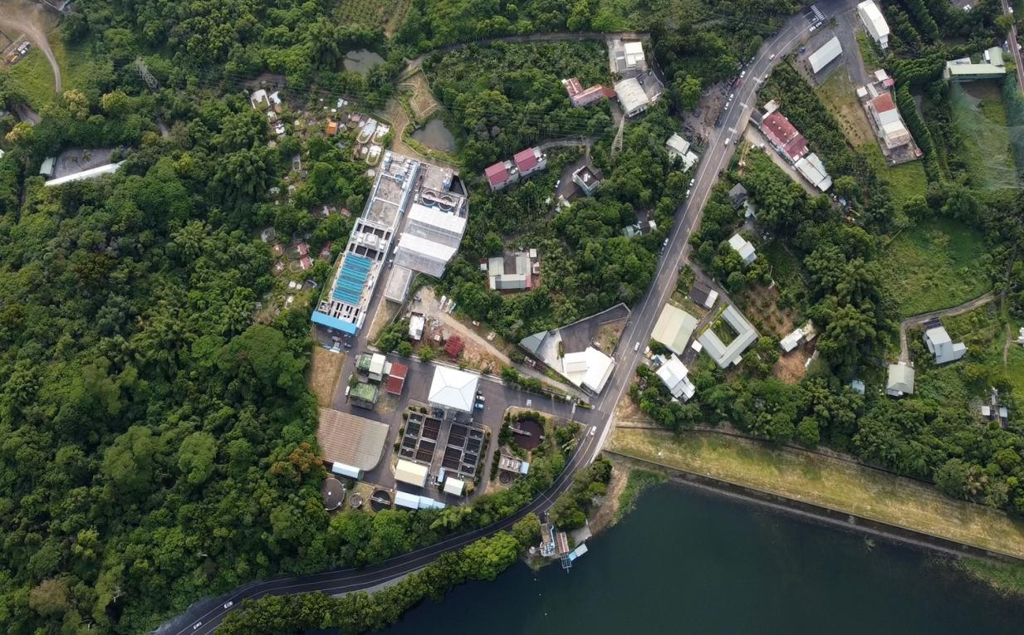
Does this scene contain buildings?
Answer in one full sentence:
Yes, I can see a building in this picture.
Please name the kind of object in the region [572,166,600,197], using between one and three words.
house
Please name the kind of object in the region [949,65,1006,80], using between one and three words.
shed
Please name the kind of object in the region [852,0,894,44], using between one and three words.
building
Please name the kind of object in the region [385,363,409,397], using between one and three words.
house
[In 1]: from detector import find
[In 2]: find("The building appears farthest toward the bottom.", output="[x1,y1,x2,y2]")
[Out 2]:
[539,523,555,557]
